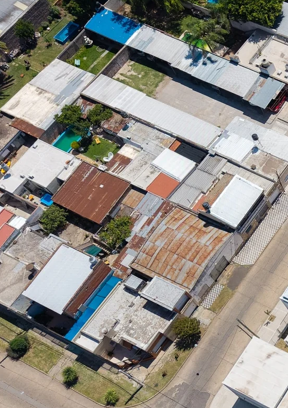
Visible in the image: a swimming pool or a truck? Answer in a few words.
swimming pool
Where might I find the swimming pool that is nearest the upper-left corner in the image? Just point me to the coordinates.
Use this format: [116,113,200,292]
[54,21,82,47]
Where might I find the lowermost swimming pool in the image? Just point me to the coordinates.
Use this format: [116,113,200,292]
[82,244,104,257]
